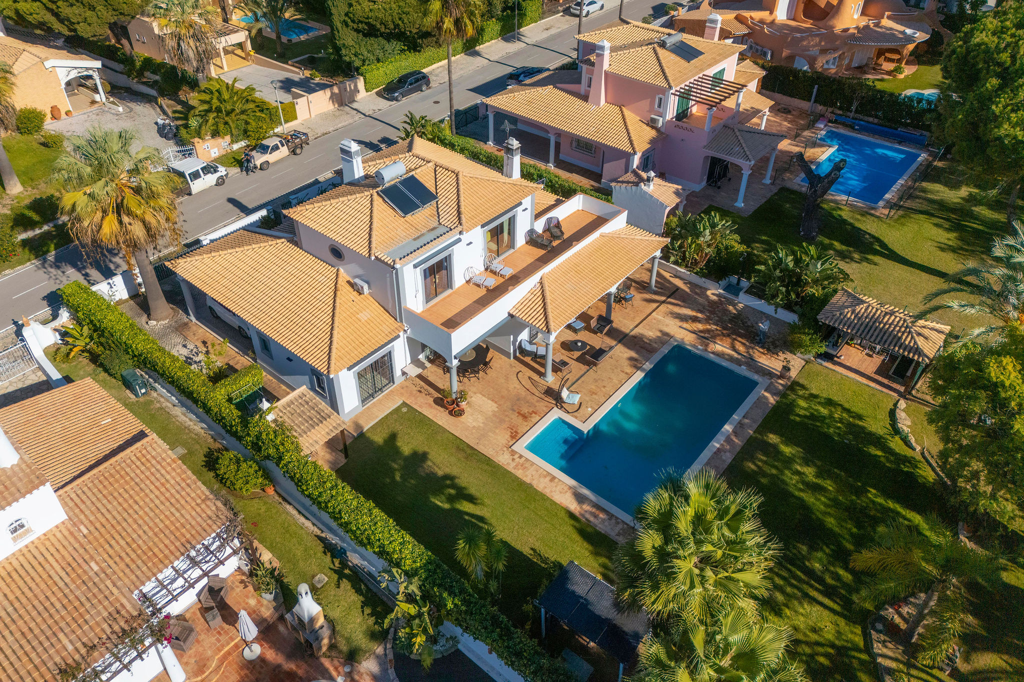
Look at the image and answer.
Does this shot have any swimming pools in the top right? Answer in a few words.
Yes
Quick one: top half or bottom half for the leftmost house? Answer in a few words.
top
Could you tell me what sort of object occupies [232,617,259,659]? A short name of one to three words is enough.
umbrella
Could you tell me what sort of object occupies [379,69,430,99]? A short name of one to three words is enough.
car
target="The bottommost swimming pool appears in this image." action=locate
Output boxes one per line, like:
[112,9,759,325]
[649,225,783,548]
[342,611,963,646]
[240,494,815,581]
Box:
[510,336,765,524]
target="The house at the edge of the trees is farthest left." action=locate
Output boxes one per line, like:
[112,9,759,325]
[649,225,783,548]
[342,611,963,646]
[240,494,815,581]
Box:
[0,39,105,124]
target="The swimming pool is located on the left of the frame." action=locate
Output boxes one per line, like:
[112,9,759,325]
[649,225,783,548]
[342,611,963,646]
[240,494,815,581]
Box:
[229,11,326,40]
